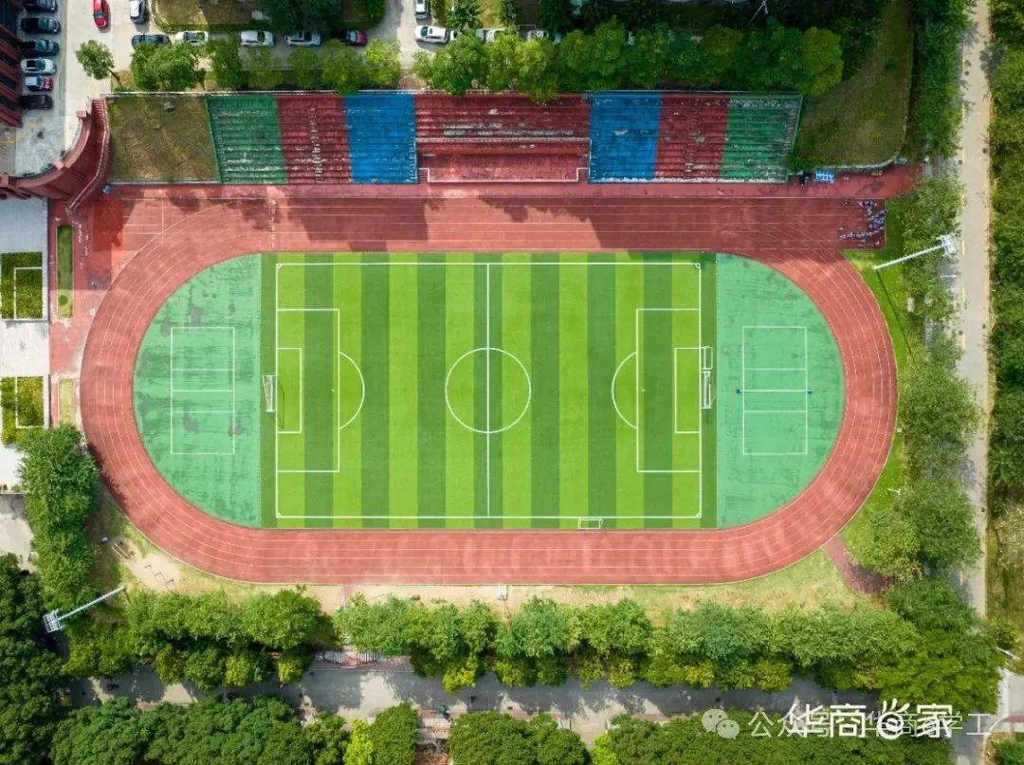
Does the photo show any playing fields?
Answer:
Yes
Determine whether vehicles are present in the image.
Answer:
Yes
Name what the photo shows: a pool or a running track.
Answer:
running track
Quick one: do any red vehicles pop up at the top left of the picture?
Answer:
Yes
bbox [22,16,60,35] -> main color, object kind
black car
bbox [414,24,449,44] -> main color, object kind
white car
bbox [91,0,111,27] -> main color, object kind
red car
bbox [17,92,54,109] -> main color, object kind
black car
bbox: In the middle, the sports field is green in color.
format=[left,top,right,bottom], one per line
[261,252,716,528]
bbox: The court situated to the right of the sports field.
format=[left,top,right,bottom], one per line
[717,253,843,527]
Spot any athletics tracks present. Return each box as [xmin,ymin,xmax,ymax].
[80,197,898,583]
